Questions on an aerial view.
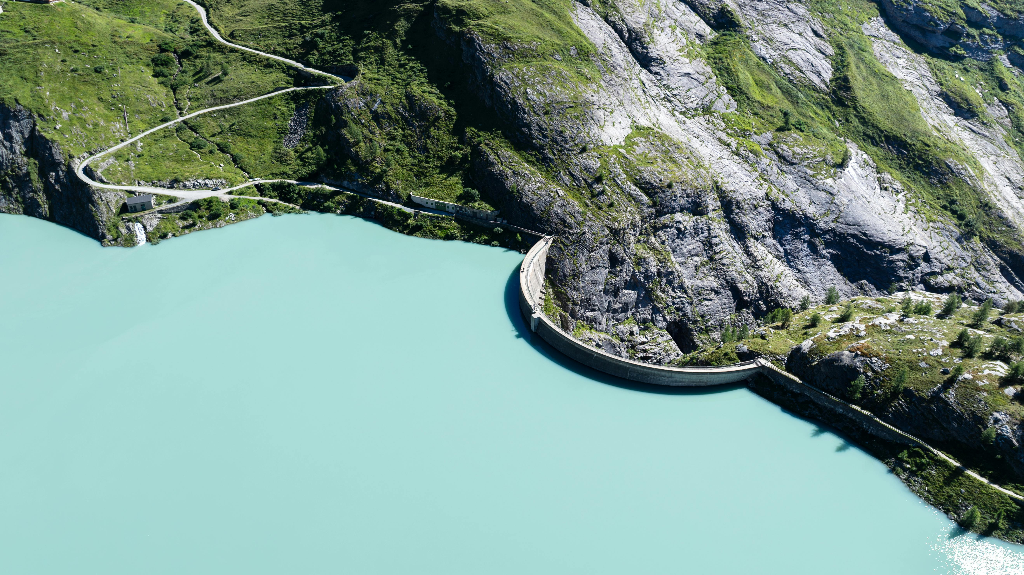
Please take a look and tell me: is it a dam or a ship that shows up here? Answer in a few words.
dam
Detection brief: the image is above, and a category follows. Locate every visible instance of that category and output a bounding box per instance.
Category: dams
[515,233,772,391]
